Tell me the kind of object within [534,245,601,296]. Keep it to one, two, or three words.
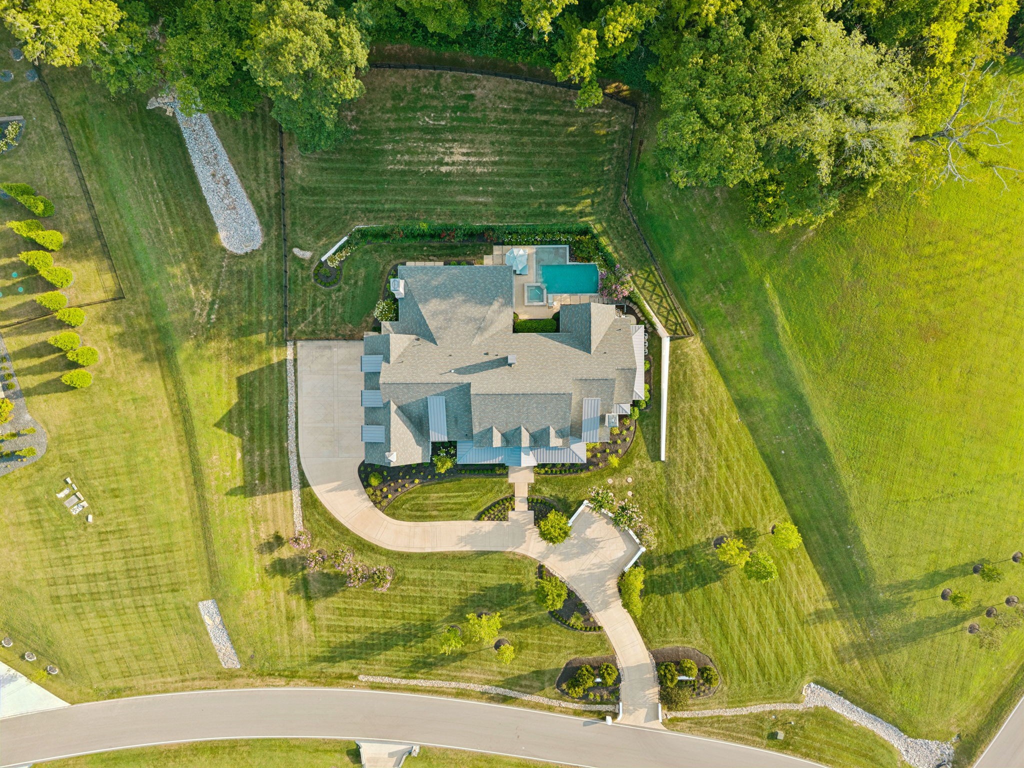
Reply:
swimming pool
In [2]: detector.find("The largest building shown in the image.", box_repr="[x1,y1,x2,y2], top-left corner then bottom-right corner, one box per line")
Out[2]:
[360,265,645,467]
